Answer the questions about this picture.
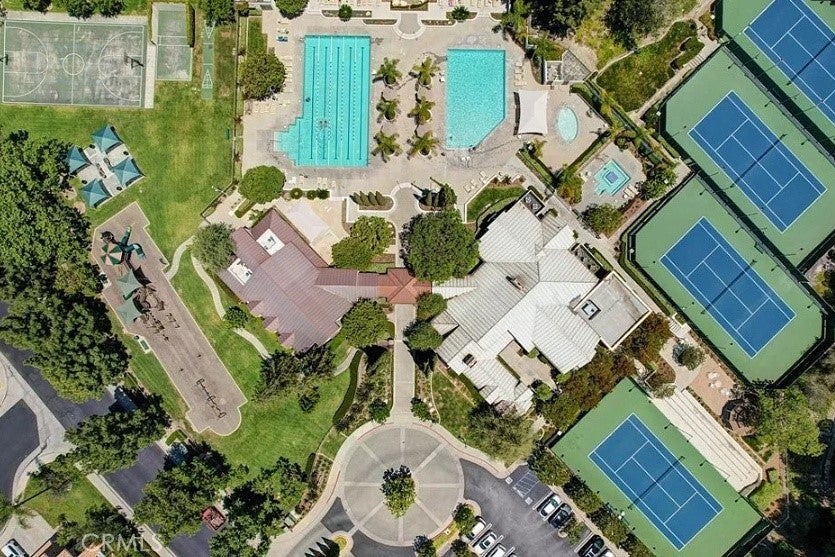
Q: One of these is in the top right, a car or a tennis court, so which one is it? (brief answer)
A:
tennis court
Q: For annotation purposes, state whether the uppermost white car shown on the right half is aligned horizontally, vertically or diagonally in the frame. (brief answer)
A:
diagonally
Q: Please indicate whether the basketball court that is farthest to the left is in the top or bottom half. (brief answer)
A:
top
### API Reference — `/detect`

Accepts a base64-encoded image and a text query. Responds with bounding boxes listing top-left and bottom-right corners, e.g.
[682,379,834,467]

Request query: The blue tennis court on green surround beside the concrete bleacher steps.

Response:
[552,379,762,557]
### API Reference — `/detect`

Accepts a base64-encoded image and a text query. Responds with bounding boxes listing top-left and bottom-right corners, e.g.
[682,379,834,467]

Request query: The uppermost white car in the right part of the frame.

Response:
[538,494,563,518]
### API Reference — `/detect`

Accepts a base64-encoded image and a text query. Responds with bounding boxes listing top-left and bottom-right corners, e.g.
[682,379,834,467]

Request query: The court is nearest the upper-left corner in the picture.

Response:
[0,20,147,108]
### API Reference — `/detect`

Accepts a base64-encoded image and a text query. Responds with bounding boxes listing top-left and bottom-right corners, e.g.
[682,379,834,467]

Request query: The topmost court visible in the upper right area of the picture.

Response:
[722,0,835,143]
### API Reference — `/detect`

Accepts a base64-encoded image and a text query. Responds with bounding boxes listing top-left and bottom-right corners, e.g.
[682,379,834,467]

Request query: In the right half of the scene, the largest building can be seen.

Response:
[431,190,652,412]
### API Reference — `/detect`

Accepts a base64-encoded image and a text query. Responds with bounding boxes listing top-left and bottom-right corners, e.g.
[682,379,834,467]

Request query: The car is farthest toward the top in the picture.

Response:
[112,387,135,411]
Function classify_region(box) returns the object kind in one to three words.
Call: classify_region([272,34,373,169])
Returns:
swimming pool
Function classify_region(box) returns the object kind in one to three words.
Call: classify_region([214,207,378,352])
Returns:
building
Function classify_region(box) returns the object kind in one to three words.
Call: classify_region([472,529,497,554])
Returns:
car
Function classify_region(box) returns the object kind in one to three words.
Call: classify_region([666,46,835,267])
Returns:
tennis court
